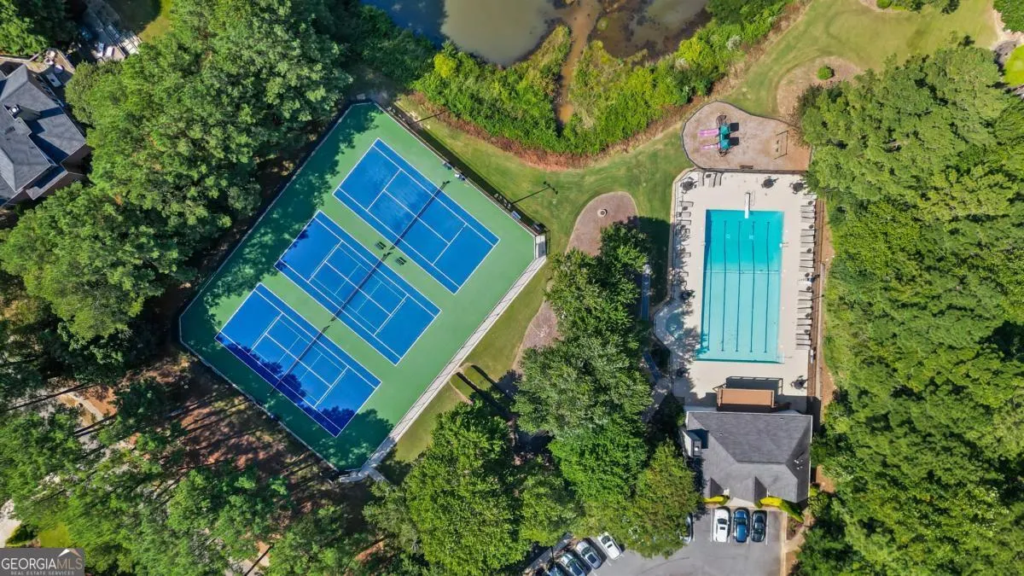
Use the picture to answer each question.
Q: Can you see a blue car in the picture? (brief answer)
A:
Yes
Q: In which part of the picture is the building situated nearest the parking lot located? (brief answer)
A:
bottom right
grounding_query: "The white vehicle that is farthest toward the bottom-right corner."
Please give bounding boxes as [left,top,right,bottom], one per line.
[714,510,731,543]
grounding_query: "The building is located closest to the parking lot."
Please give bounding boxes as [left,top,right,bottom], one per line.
[676,409,813,503]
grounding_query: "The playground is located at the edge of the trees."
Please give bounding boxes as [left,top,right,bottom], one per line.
[682,99,809,170]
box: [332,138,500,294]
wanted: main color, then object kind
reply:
blue tennis court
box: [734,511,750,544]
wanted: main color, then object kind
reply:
blue car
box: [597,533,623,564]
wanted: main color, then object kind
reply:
white car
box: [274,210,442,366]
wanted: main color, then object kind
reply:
blue tennis court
